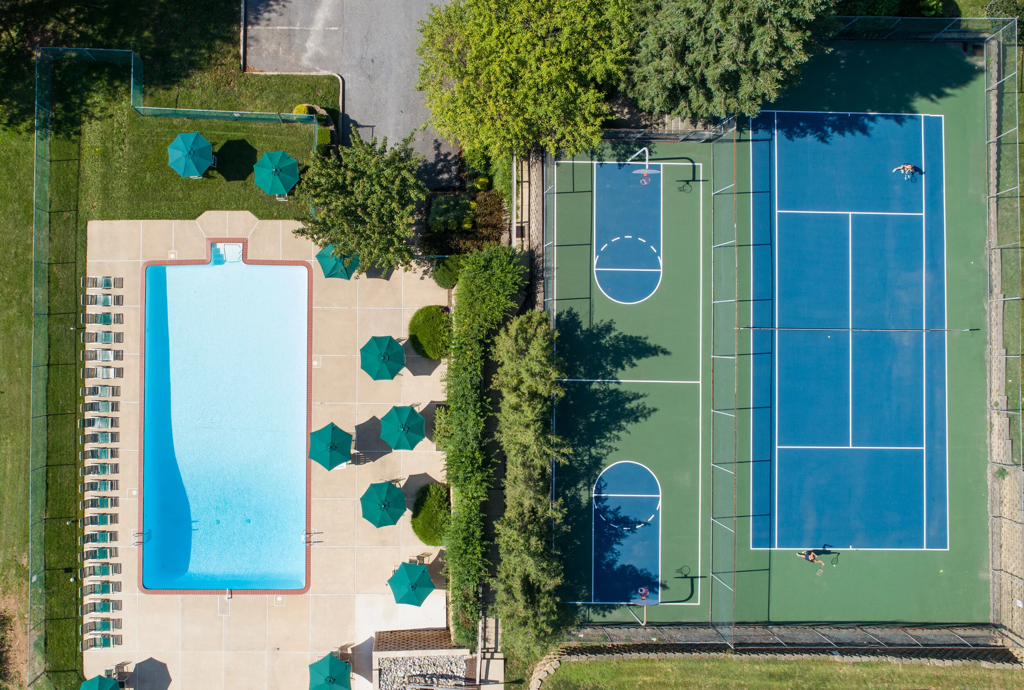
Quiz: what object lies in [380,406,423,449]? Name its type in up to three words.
umbrella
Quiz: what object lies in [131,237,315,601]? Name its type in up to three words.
swimming pool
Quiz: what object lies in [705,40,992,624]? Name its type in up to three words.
tennis court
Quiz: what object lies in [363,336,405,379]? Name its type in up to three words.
umbrella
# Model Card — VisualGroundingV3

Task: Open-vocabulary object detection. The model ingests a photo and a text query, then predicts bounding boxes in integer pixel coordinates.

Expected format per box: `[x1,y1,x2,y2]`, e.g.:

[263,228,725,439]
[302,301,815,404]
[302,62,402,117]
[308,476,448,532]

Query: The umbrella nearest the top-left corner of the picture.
[170,134,213,178]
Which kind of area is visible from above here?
sports ground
